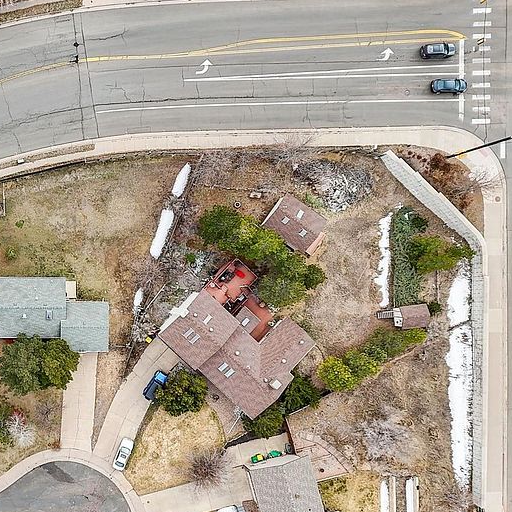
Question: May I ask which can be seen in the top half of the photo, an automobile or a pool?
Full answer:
The feature located in the top half of the photo is an automobile.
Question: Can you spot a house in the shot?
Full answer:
Yes, there's a house down there.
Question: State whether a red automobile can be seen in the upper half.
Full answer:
No, there's no red automobile to be seen in the upper half.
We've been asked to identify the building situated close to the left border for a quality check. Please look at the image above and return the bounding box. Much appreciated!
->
[0,277,111,354]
